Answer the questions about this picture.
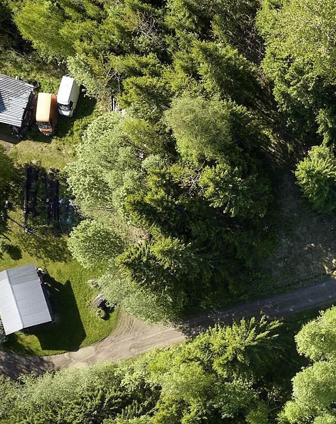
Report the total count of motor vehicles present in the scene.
2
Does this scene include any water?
No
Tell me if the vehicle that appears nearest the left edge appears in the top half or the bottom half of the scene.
top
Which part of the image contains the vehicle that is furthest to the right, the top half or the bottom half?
top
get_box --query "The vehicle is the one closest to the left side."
[38,92,60,136]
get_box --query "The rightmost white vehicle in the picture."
[55,73,81,117]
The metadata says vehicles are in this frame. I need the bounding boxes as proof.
[55,73,81,117]
[38,92,60,136]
